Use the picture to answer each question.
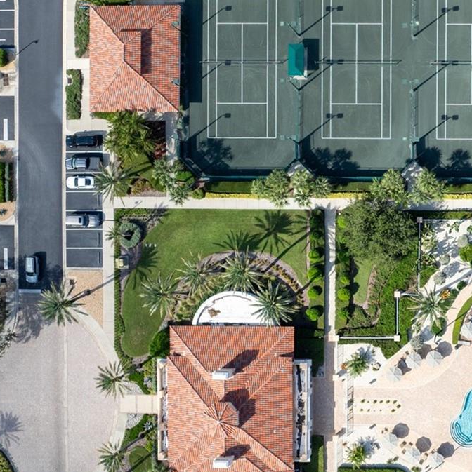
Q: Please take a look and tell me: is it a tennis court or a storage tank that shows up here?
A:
tennis court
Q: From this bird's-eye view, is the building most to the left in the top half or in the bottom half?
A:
top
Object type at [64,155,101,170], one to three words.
vehicle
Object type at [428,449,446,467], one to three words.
umbrella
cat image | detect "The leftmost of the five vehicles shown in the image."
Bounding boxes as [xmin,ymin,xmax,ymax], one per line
[21,255,38,284]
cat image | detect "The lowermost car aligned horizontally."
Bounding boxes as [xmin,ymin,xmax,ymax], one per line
[66,214,98,228]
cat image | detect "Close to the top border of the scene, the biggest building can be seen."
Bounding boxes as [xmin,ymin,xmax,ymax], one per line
[89,4,181,112]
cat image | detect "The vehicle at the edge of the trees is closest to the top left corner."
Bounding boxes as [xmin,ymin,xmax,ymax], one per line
[64,133,100,147]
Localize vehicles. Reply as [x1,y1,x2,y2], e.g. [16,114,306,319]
[66,214,98,228]
[21,255,38,284]
[64,133,100,147]
[64,155,101,170]
[64,176,93,189]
